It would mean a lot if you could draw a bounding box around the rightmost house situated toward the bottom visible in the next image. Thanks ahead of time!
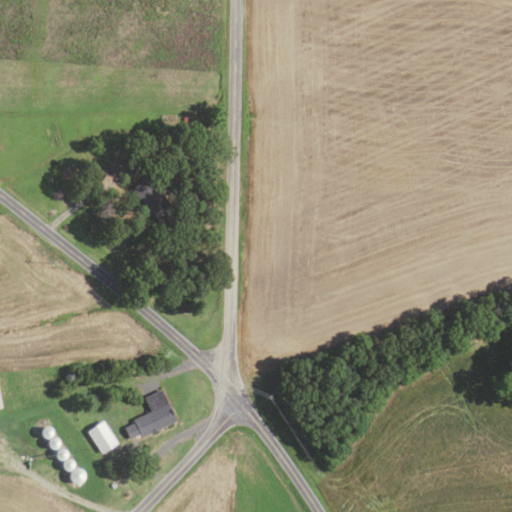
[128,391,176,440]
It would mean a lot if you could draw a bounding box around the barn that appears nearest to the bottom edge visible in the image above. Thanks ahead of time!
[88,421,120,454]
